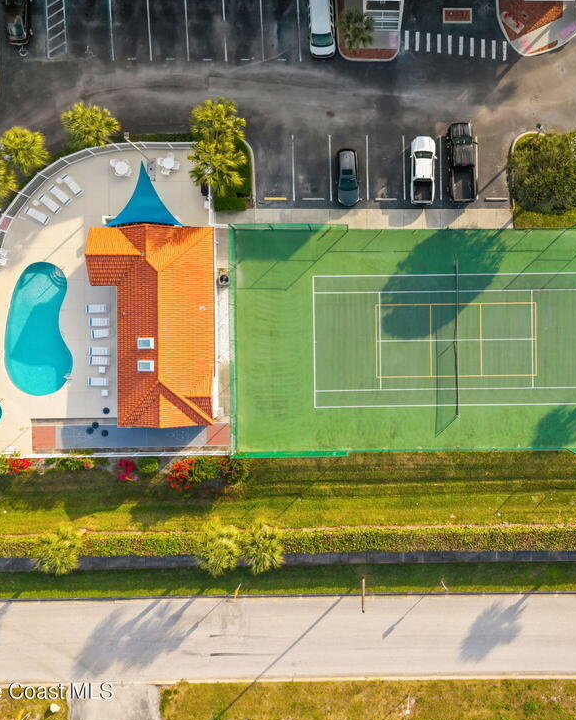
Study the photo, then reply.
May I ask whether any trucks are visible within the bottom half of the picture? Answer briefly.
No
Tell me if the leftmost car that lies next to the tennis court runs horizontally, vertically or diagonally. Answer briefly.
vertically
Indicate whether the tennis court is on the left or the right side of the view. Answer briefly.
right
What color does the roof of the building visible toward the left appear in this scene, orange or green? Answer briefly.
orange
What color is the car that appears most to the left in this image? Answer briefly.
black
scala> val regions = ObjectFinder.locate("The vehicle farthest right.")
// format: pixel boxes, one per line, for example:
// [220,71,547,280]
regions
[447,123,478,204]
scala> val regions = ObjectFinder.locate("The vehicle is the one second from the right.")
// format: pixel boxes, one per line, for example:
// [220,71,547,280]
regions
[409,136,438,205]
